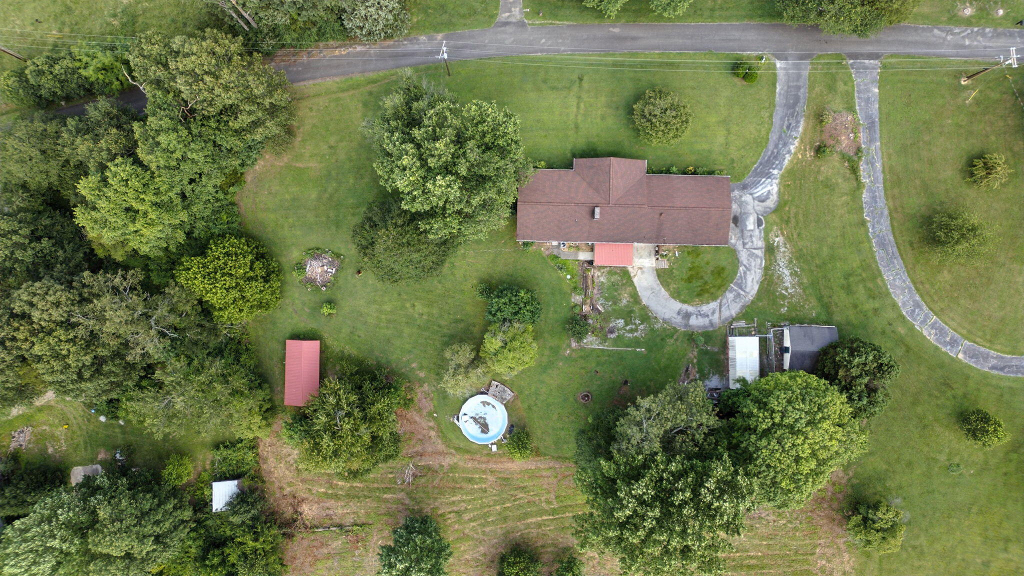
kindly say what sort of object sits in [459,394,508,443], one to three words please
swimming pool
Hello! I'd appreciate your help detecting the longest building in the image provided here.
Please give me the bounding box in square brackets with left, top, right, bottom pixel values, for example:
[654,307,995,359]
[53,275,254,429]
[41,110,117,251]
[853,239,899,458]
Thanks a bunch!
[516,158,731,266]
